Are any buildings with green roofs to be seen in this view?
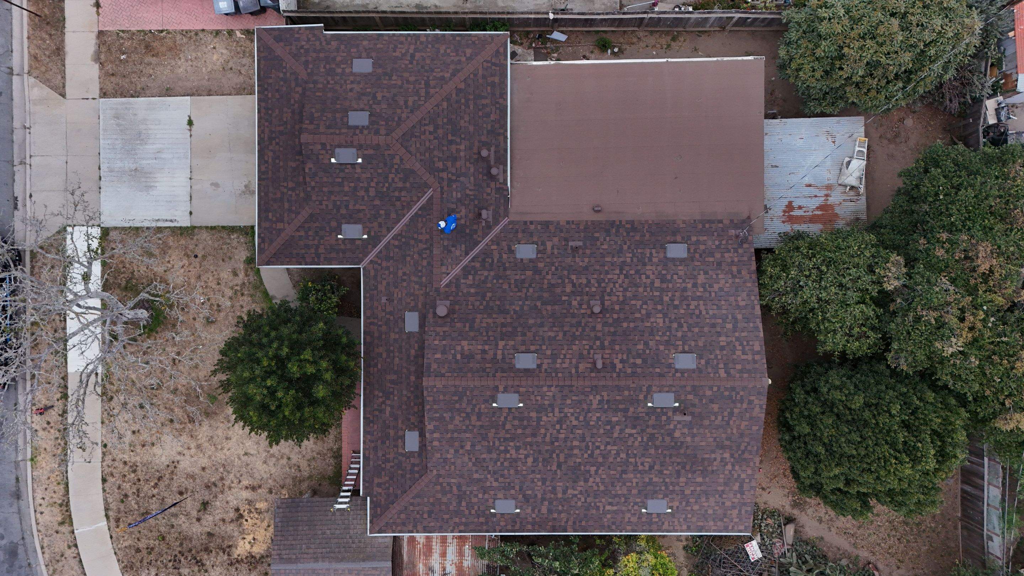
No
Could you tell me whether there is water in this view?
No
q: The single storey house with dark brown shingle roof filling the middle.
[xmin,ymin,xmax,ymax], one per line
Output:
[254,23,772,537]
